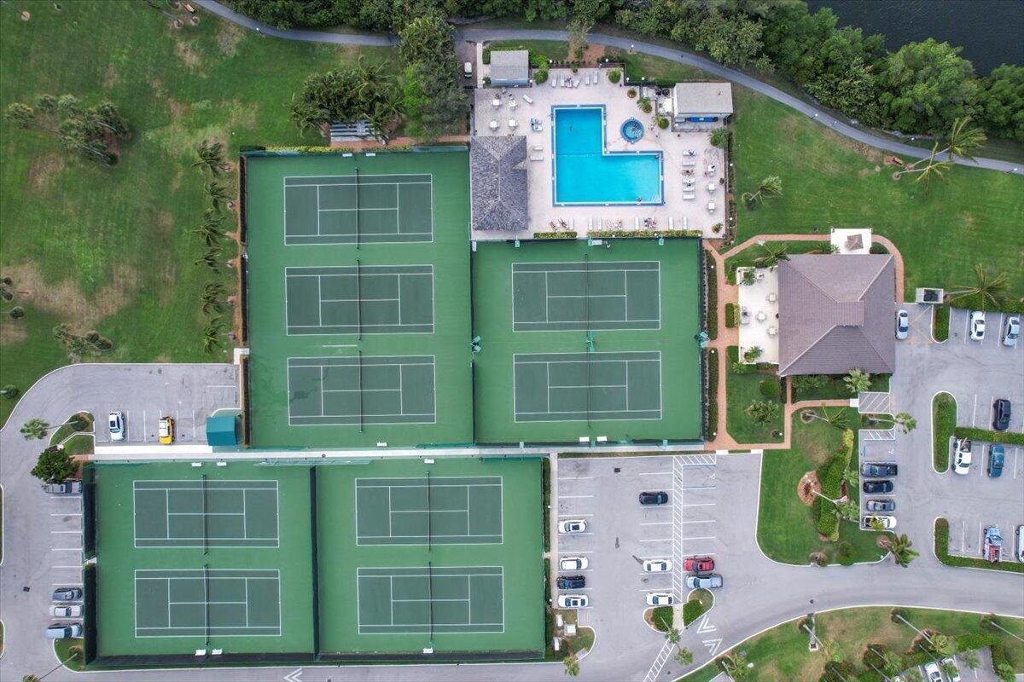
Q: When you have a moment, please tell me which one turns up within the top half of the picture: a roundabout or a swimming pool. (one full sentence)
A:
It is a swimming pool that can be seen within the top half of the picture.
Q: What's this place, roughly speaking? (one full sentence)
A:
What you see here is a sports ground.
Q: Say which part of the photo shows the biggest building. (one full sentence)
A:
The biggest building appears toward the right of the photo.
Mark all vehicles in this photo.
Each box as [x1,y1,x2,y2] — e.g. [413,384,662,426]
[894,309,910,339]
[51,603,84,619]
[686,572,723,589]
[558,594,589,609]
[1001,316,1019,347]
[924,660,944,682]
[864,499,895,513]
[638,491,668,505]
[45,622,83,639]
[682,557,714,572]
[642,558,672,573]
[556,574,586,590]
[110,411,127,440]
[559,556,588,571]
[645,591,673,607]
[859,463,898,478]
[952,438,971,474]
[54,586,85,602]
[464,64,472,80]
[992,399,1010,430]
[157,415,175,444]
[982,525,1002,562]
[967,311,985,340]
[558,519,587,534]
[44,480,83,496]
[861,480,892,494]
[985,443,1004,478]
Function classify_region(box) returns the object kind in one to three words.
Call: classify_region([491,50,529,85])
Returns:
building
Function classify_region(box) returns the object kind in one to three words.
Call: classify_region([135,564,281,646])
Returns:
tennis court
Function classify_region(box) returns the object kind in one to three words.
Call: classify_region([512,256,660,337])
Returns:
tennis court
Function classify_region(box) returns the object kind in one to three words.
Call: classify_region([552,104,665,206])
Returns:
swimming pool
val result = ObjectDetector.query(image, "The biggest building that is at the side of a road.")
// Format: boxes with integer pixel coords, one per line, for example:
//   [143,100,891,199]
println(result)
[778,253,896,376]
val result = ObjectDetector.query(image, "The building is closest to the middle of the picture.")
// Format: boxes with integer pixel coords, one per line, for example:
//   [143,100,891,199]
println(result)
[471,132,528,230]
